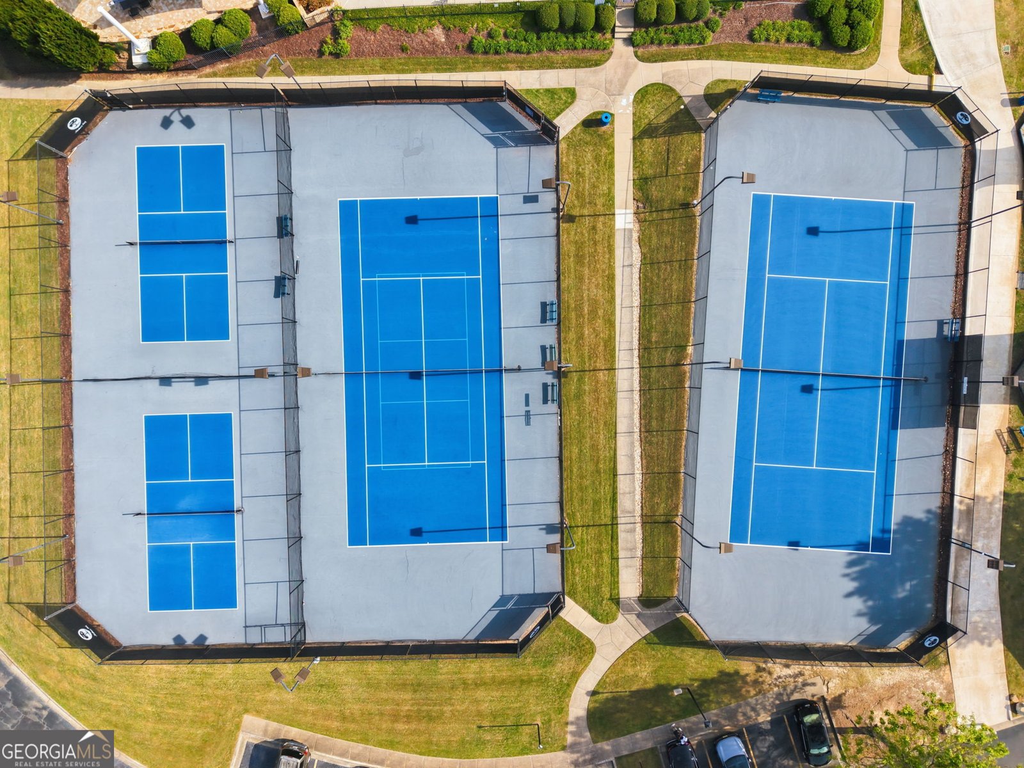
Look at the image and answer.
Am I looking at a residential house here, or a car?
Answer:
car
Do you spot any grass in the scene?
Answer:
Yes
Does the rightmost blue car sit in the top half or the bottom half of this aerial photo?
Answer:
bottom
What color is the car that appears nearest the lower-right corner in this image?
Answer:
black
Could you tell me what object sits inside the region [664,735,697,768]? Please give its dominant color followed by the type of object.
black car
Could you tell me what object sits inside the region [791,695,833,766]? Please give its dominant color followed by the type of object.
black car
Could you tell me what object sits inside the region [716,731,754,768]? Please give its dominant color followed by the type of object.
blue car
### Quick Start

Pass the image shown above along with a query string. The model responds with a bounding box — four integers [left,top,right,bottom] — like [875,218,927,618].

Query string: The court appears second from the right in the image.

[291,101,560,643]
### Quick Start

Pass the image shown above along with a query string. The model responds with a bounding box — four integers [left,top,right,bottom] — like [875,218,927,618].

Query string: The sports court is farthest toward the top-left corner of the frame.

[67,105,298,379]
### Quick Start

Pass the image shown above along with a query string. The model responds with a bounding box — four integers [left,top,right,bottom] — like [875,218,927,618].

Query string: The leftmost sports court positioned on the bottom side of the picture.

[71,376,306,646]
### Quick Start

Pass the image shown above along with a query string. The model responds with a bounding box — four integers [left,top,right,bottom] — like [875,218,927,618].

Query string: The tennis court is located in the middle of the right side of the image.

[678,91,965,647]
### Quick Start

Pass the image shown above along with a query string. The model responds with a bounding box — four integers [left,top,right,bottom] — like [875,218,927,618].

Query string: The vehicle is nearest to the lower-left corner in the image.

[276,739,309,768]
